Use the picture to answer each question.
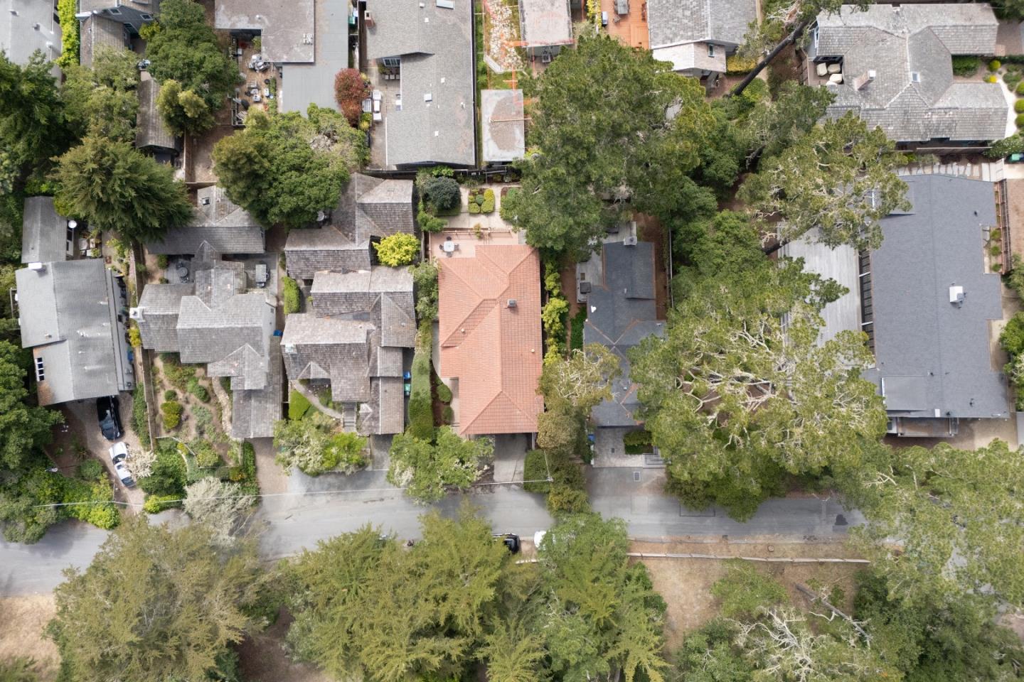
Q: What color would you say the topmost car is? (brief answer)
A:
black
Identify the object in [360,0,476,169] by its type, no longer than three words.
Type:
house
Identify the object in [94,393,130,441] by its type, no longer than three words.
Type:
car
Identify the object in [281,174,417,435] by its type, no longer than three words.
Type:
house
